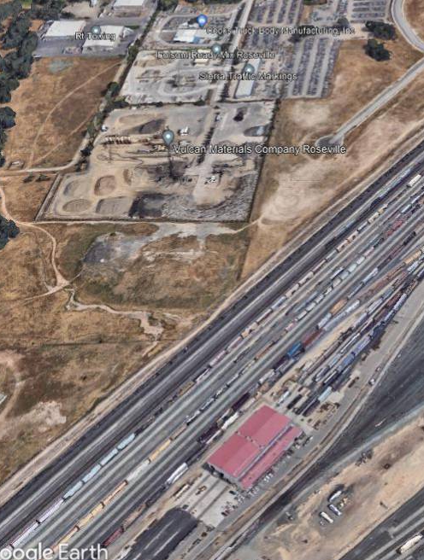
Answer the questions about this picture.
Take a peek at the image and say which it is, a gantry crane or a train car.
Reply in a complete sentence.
It is a train car that can be seen here.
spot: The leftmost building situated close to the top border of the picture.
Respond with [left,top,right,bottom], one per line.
[44,21,88,40]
